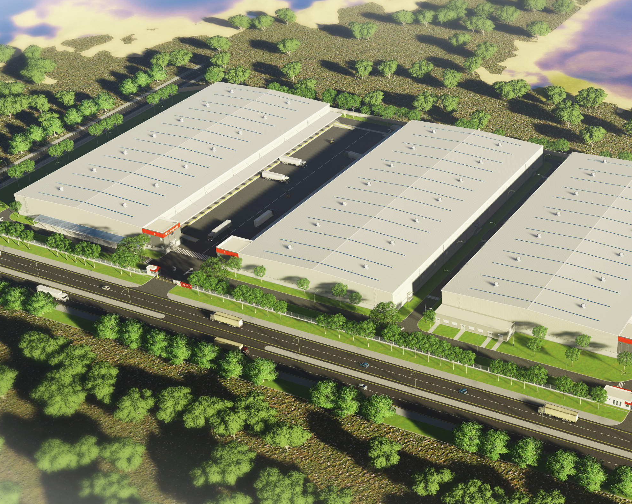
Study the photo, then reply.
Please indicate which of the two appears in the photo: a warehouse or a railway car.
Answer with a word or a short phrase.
warehouse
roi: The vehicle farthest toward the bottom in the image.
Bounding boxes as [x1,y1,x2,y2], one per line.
[540,405,578,424]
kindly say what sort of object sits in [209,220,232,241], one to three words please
vehicle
